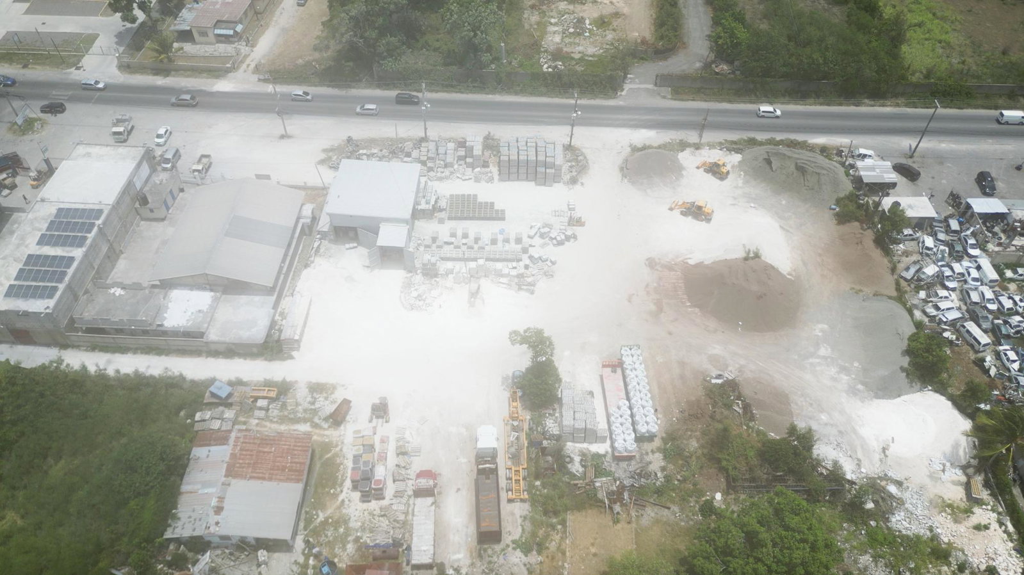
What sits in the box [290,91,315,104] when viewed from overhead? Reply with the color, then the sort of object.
gray vehicle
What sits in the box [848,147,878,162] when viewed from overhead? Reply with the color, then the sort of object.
white car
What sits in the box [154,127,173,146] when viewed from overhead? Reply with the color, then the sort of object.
white car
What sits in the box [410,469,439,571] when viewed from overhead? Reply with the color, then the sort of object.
white truck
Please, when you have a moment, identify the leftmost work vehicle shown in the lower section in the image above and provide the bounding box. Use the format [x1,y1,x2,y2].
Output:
[368,389,392,434]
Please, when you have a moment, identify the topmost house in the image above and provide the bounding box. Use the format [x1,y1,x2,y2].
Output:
[170,0,255,41]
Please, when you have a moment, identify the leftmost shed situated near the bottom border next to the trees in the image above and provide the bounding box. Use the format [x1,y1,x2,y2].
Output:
[162,429,315,547]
